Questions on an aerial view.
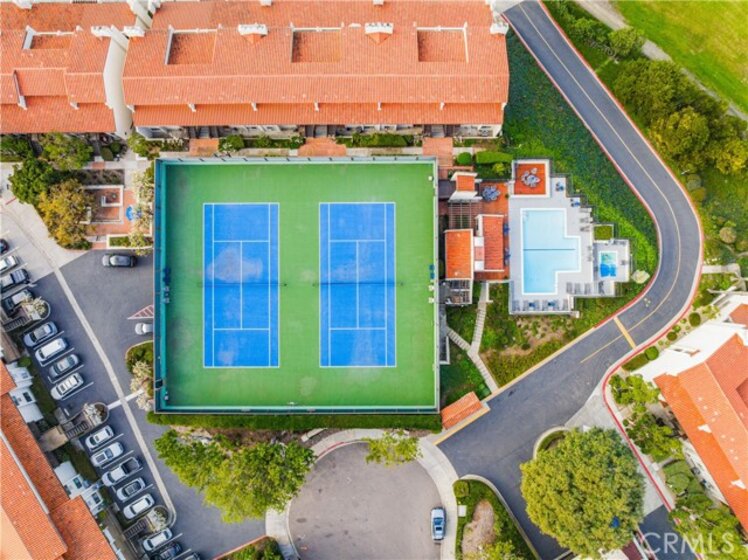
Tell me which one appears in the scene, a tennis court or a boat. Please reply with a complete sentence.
This aerial view contains a tennis court.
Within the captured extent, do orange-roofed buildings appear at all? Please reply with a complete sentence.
Yes, an orange-roofed building appears in the view.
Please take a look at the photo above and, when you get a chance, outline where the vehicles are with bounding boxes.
[2,284,37,310]
[0,250,23,277]
[136,321,154,336]
[431,505,446,540]
[122,491,157,518]
[84,423,118,448]
[50,372,87,399]
[115,475,148,501]
[101,454,143,486]
[24,319,59,345]
[152,537,186,560]
[47,353,82,379]
[177,547,207,560]
[34,335,71,363]
[0,264,32,294]
[90,440,126,467]
[141,523,175,551]
[102,253,137,268]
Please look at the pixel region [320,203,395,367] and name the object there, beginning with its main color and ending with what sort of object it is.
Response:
blue tennis court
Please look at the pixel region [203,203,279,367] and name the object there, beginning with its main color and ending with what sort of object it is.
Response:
blue tennis court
